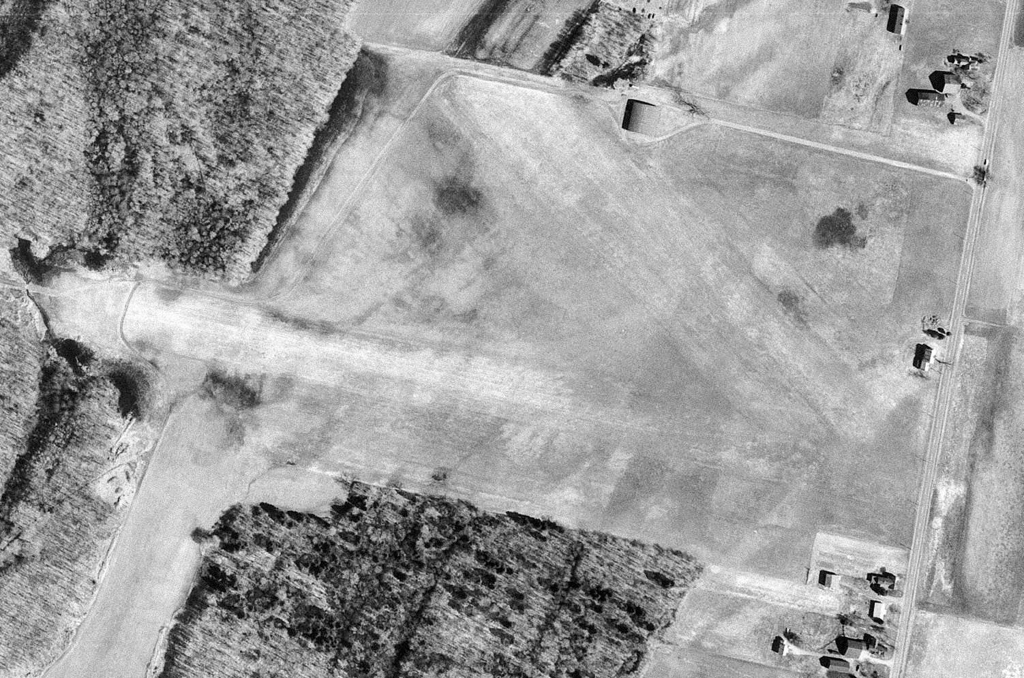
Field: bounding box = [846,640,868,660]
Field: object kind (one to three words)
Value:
barn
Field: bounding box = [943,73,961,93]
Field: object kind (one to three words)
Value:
barn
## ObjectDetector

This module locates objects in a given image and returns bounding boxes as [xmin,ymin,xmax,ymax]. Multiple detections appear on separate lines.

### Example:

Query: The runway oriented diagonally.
[461,73,868,435]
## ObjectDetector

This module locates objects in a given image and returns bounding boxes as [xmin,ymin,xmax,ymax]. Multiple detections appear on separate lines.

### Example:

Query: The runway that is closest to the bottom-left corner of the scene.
[136,296,583,418]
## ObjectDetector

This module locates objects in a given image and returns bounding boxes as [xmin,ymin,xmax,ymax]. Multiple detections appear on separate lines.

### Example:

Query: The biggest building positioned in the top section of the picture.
[627,101,661,136]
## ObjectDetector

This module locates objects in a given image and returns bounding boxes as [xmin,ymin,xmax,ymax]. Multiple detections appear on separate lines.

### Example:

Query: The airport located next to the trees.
[136,73,868,435]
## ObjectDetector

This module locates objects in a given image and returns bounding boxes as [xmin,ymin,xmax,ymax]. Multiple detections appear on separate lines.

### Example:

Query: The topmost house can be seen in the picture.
[896,6,911,34]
